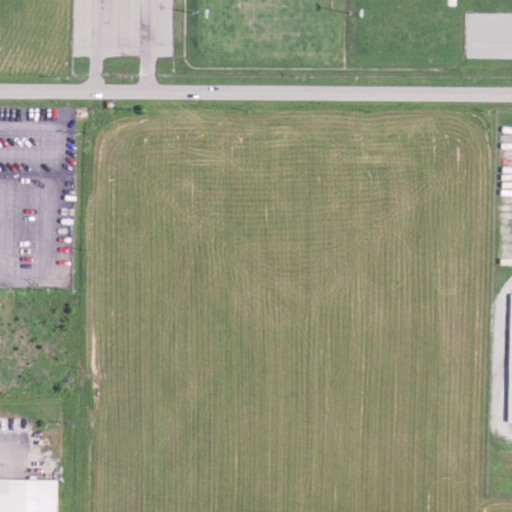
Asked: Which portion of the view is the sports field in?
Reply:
top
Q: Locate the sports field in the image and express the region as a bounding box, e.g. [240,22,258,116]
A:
[188,0,344,68]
